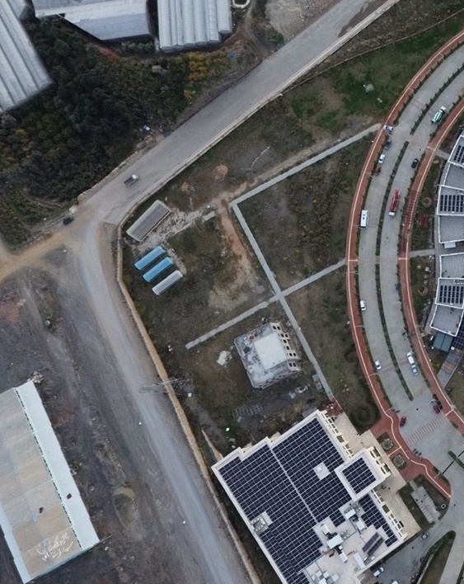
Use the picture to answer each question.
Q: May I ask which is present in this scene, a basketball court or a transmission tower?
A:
transmission tower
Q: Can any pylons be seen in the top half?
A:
No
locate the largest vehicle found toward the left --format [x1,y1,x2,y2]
[124,174,141,186]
